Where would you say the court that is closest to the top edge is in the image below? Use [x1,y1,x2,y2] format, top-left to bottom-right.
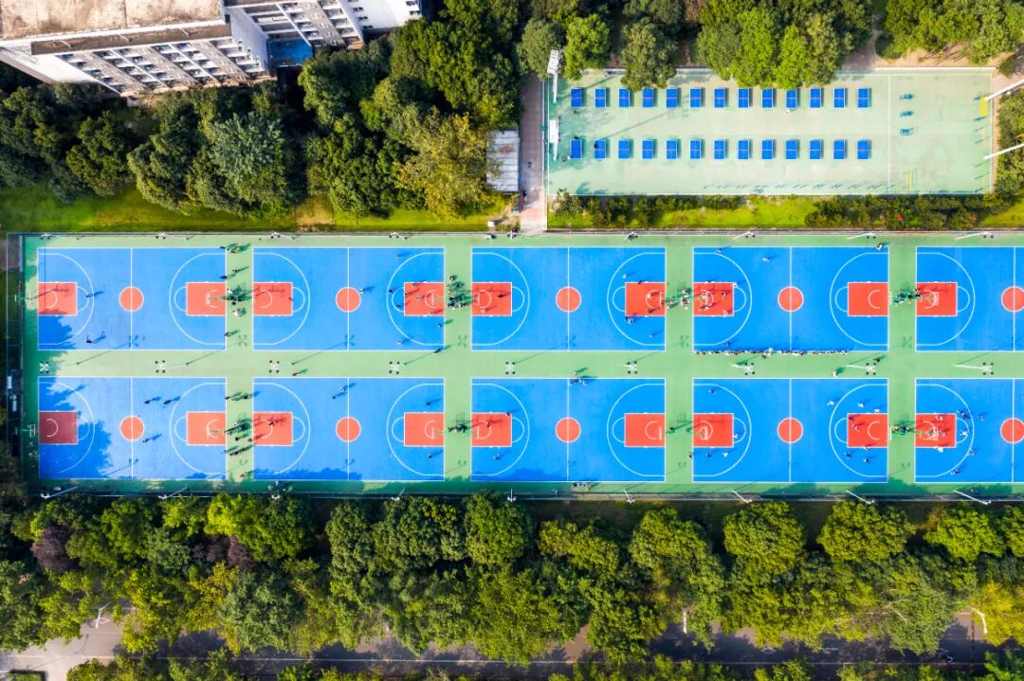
[547,65,995,197]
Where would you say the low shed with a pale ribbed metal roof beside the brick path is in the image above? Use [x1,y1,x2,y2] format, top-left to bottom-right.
[488,128,519,193]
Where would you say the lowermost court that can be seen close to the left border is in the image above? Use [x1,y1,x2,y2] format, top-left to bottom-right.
[38,377,227,480]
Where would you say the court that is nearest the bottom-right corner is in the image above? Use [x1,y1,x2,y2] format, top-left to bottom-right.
[915,379,1024,484]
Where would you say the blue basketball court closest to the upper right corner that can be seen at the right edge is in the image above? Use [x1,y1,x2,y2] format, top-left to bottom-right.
[915,246,1024,351]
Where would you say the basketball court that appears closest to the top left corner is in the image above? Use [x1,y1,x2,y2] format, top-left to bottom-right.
[38,247,226,350]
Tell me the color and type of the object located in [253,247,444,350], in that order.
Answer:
blue basketball court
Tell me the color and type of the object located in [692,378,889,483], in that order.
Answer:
blue basketball court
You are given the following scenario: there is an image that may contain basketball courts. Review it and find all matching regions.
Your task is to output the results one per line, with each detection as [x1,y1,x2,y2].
[915,379,1024,484]
[472,246,666,351]
[38,247,226,350]
[915,246,1024,351]
[471,378,665,482]
[253,377,444,481]
[692,378,889,483]
[693,246,889,351]
[38,377,227,480]
[253,247,444,350]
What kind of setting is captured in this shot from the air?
sports ground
